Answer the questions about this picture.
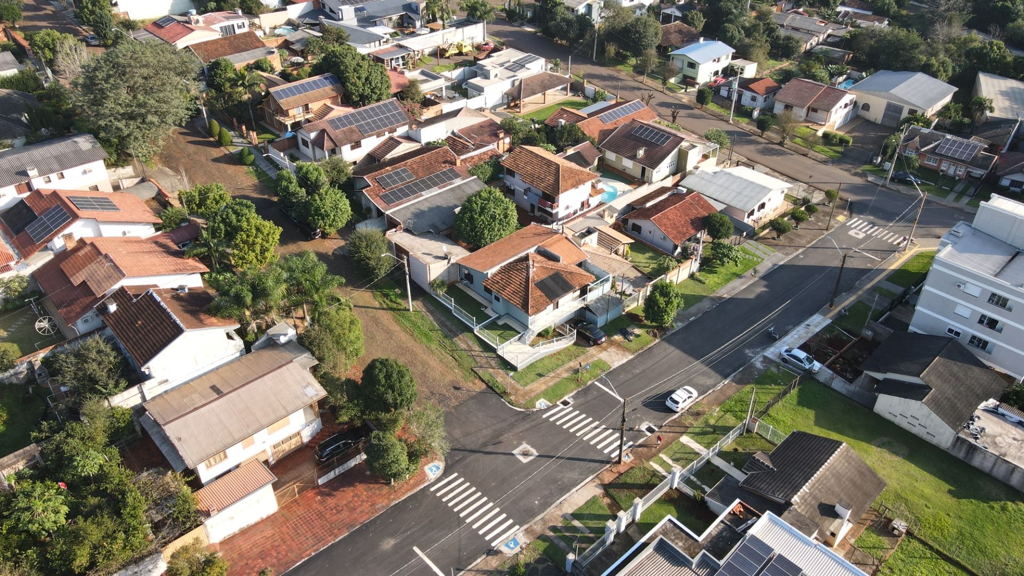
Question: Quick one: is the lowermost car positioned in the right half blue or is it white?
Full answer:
The lowermost car positioned in the right half looks white in the image.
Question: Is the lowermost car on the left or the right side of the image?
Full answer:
The lowermost car appears in the left half of the scene.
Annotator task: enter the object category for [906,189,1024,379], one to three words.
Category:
building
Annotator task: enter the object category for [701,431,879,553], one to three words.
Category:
house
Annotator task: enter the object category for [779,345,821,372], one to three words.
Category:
car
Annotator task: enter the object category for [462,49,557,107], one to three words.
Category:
house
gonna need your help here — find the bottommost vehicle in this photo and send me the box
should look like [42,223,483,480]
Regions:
[317,425,369,458]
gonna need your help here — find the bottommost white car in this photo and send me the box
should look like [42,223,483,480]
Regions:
[663,386,700,413]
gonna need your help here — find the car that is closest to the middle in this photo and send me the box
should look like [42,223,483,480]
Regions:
[573,318,609,341]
